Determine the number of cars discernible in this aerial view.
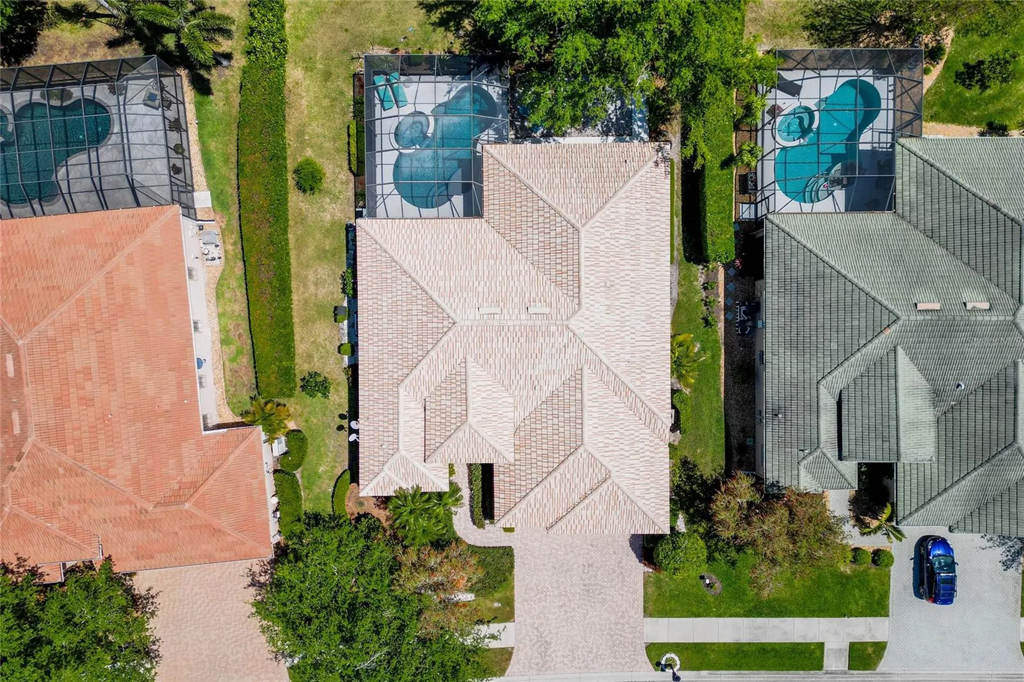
1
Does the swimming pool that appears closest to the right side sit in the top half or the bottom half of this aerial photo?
top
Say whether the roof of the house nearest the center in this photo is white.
Yes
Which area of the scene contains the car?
bottom right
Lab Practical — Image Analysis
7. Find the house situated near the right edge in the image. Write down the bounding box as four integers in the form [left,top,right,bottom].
[754,136,1024,539]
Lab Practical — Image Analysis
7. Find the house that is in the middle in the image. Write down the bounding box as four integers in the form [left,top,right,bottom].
[355,140,673,536]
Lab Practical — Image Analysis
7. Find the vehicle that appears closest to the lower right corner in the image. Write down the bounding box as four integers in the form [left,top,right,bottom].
[916,533,959,606]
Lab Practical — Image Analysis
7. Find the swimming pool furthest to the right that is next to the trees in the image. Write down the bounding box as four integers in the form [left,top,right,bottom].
[770,74,886,207]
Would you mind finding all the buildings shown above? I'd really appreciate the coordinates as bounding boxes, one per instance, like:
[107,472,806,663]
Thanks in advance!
[0,202,277,588]
[754,136,1024,539]
[355,140,673,536]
